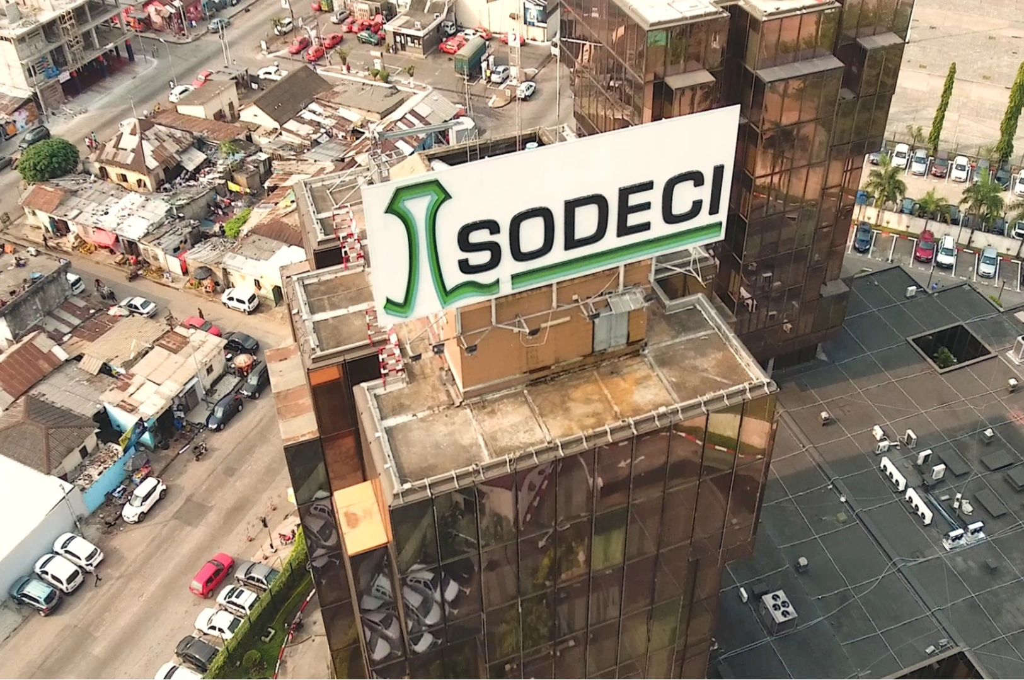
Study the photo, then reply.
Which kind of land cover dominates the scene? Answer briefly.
buildings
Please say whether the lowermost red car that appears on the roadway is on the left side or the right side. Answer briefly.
left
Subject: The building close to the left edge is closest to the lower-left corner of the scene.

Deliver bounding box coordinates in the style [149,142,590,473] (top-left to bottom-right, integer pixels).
[0,453,84,601]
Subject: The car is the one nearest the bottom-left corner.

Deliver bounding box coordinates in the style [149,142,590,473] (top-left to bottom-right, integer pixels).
[10,579,61,614]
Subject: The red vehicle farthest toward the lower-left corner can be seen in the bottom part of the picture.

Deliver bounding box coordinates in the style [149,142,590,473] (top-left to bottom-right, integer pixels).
[192,555,231,596]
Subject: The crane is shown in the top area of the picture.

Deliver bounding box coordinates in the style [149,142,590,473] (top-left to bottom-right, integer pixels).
[379,112,490,173]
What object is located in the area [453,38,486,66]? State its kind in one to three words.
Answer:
truck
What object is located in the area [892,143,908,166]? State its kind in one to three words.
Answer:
car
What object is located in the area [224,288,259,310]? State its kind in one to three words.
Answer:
vehicle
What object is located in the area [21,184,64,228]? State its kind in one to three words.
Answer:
shed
